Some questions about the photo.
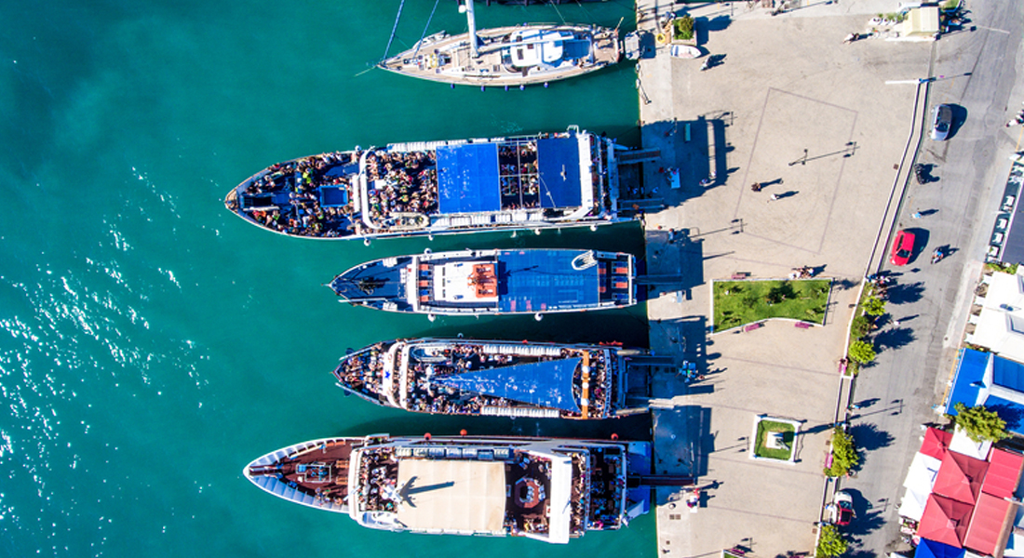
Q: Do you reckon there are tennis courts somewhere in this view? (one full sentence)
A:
No, I find no tennis court anywhere in the image.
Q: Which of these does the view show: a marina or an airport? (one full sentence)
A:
This looks like a marina.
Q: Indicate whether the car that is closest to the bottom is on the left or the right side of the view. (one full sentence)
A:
The car that is closest to the bottom appears in the right half of the scene.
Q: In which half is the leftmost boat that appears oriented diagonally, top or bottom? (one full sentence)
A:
The top half of the photo is where the leftmost boat that appears oriented diagonally is.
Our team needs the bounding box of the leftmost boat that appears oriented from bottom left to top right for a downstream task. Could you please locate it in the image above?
[416,28,448,50]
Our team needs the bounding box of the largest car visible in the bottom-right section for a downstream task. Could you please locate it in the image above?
[832,490,854,527]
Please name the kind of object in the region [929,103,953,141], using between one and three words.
car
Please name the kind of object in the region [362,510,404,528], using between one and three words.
boat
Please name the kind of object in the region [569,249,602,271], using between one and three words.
boat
